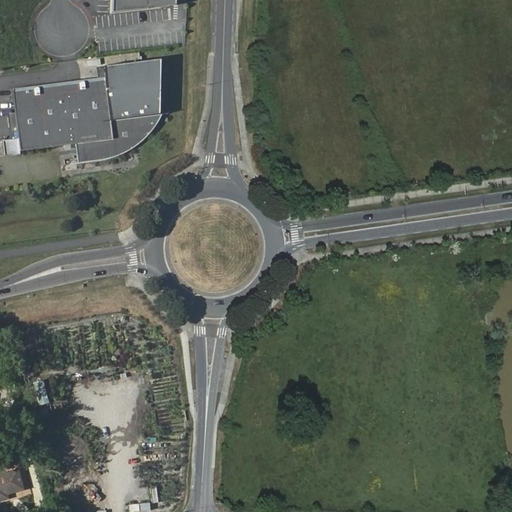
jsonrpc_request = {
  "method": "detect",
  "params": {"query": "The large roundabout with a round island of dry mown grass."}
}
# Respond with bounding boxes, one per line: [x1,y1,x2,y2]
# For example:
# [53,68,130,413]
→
[145,178,285,315]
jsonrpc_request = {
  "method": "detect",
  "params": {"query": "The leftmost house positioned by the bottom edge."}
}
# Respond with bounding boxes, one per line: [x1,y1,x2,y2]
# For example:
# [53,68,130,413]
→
[0,468,31,504]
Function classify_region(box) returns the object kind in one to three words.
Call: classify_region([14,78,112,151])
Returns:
building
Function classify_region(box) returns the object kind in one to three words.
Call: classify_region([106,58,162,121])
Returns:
building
